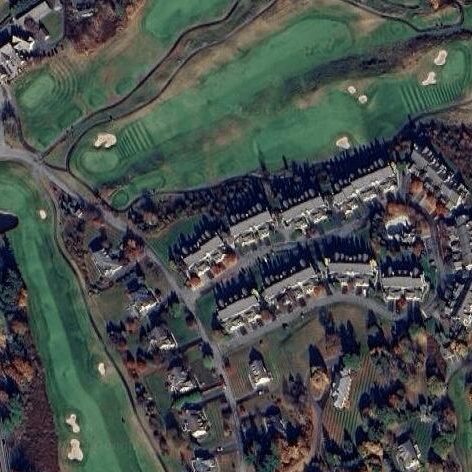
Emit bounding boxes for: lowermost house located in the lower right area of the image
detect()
[396,441,421,472]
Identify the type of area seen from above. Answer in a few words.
golf course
